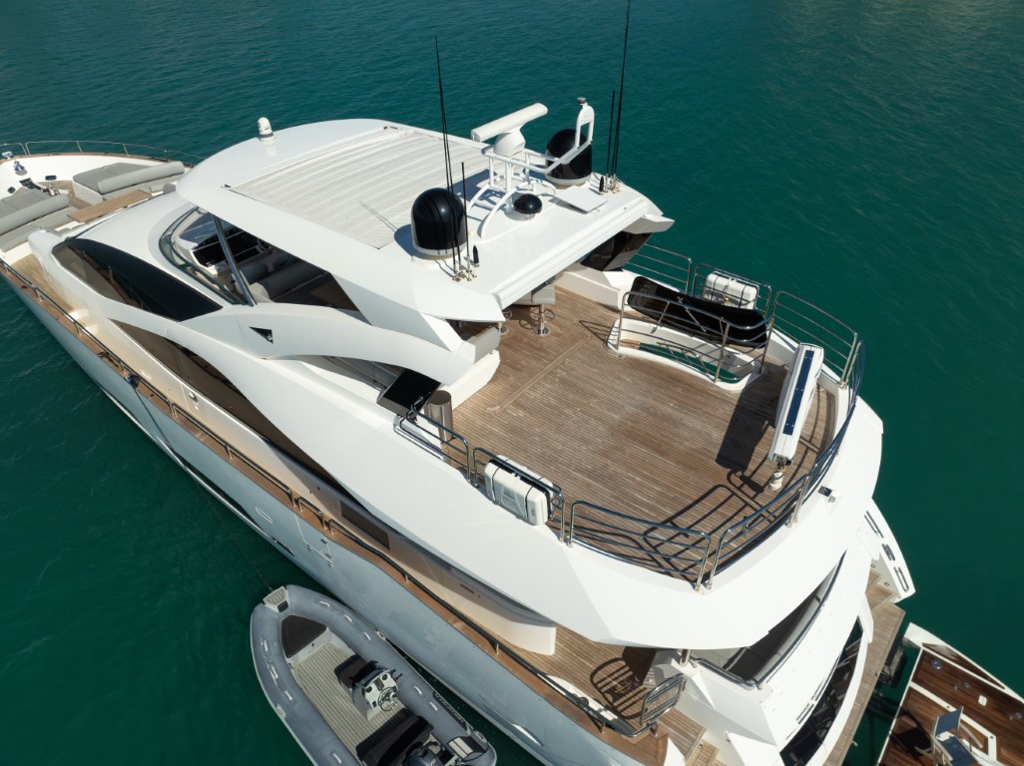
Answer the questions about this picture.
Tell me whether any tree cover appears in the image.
No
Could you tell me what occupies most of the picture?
water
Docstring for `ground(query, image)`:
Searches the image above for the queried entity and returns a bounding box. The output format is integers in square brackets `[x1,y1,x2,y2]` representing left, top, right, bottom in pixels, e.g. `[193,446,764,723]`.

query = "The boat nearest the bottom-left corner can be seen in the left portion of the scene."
[253,580,505,766]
